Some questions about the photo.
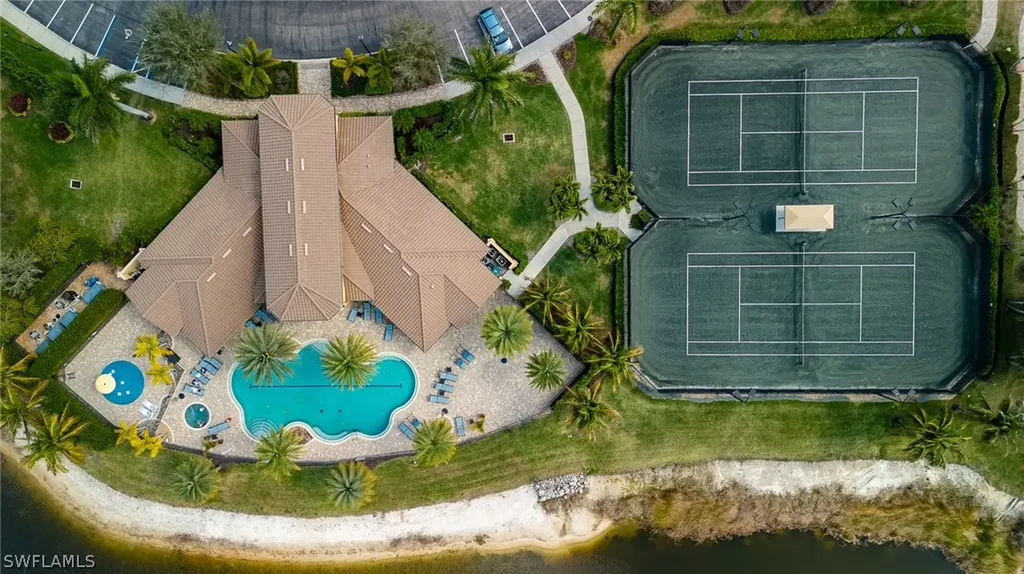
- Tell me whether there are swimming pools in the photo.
Yes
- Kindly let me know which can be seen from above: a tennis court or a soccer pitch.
tennis court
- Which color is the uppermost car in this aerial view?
blue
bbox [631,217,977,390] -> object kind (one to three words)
tennis court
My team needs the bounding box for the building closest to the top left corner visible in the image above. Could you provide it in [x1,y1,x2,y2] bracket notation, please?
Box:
[126,95,503,360]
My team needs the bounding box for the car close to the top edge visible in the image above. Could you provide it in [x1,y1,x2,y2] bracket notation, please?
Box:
[479,7,511,54]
